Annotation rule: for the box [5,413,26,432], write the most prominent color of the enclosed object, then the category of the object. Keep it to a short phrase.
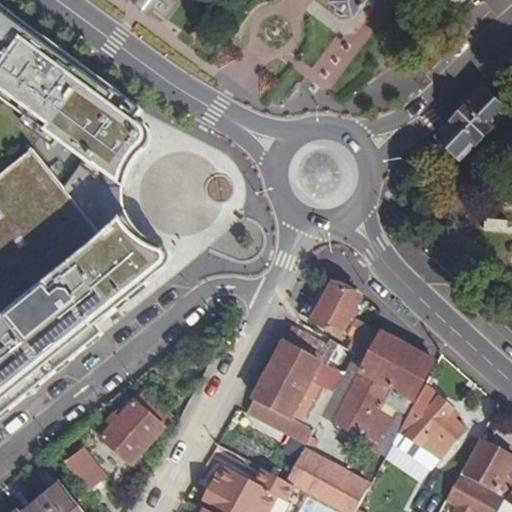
white vehicle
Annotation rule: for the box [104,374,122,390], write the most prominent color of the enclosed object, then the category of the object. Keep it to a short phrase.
white car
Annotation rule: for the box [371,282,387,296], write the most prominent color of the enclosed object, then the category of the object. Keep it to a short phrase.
white car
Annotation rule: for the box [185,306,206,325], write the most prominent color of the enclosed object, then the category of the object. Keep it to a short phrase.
white vehicle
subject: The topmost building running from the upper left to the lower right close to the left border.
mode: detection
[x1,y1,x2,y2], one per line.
[0,7,150,184]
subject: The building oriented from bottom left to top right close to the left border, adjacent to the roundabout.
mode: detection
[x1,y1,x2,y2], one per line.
[0,216,164,414]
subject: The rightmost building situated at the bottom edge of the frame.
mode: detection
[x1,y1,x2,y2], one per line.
[462,439,512,497]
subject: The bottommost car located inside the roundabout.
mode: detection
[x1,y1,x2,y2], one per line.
[310,214,327,228]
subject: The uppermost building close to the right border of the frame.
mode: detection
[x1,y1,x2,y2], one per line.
[447,92,504,159]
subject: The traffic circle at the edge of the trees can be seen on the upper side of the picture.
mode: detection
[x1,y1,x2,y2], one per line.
[227,99,406,276]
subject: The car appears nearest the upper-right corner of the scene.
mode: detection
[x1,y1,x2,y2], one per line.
[454,42,470,60]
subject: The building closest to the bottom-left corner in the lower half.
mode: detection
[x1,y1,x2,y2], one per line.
[16,480,82,512]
